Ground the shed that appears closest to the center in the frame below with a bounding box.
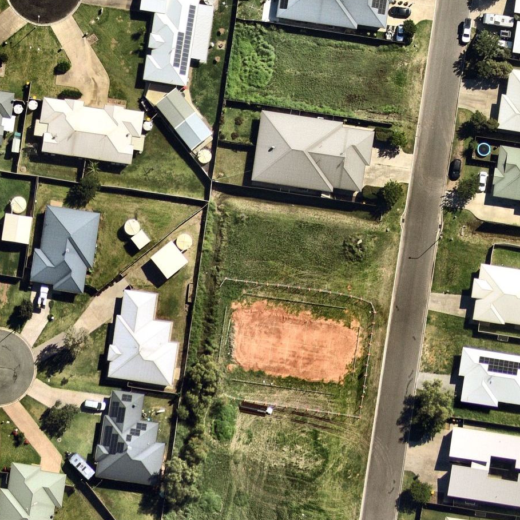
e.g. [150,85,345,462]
[151,241,189,279]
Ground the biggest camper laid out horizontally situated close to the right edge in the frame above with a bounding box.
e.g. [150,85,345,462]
[478,14,515,27]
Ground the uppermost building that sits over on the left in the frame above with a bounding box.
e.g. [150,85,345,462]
[139,0,213,86]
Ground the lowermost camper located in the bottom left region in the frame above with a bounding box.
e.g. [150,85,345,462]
[68,452,95,480]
